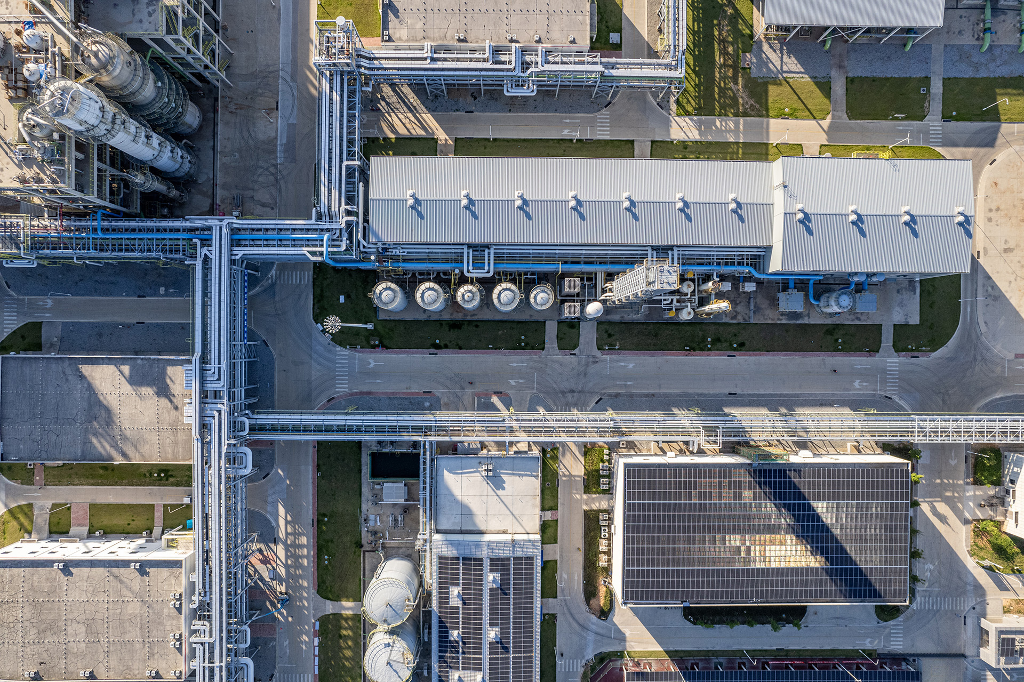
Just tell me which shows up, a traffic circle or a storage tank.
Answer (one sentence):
Looking from above, you can make out a storage tank.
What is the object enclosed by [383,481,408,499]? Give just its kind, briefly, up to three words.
shed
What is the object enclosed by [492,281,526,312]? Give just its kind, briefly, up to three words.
storage tank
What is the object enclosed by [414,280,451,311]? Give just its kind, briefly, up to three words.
storage tank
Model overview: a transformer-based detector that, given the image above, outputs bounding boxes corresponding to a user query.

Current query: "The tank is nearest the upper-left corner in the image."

[365,280,410,311]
